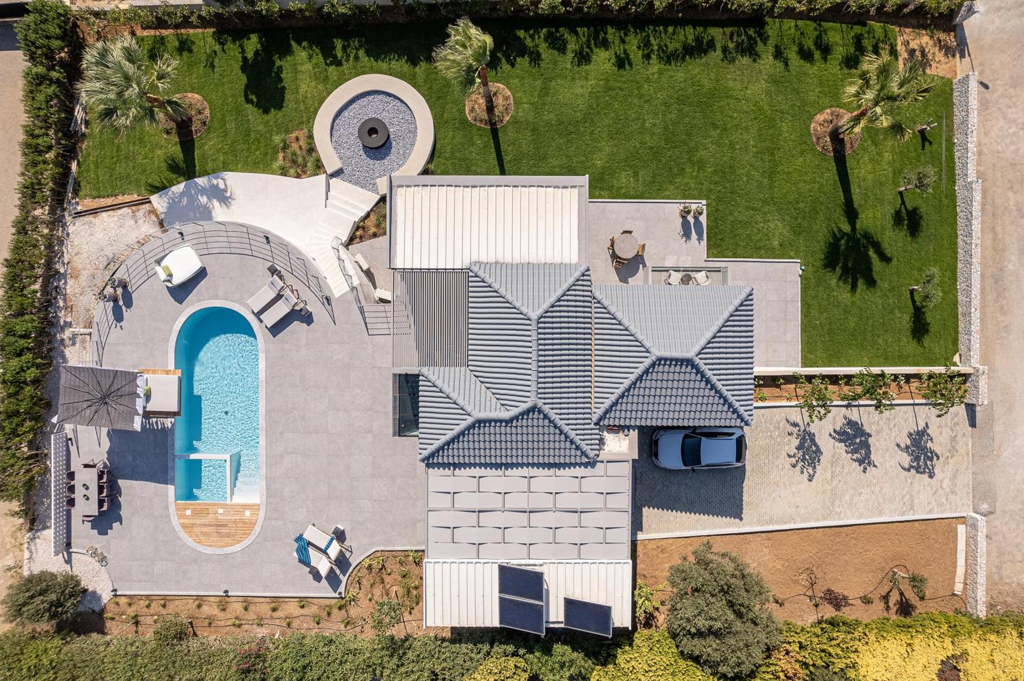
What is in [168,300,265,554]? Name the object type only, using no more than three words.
swimming pool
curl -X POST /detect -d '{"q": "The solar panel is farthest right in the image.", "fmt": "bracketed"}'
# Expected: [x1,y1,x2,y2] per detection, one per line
[562,597,612,637]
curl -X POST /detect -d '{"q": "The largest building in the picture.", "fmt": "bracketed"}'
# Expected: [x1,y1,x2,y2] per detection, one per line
[388,175,757,467]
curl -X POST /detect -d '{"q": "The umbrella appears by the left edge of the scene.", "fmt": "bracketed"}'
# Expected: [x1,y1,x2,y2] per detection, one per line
[51,363,153,429]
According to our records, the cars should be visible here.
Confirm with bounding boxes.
[652,427,748,475]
